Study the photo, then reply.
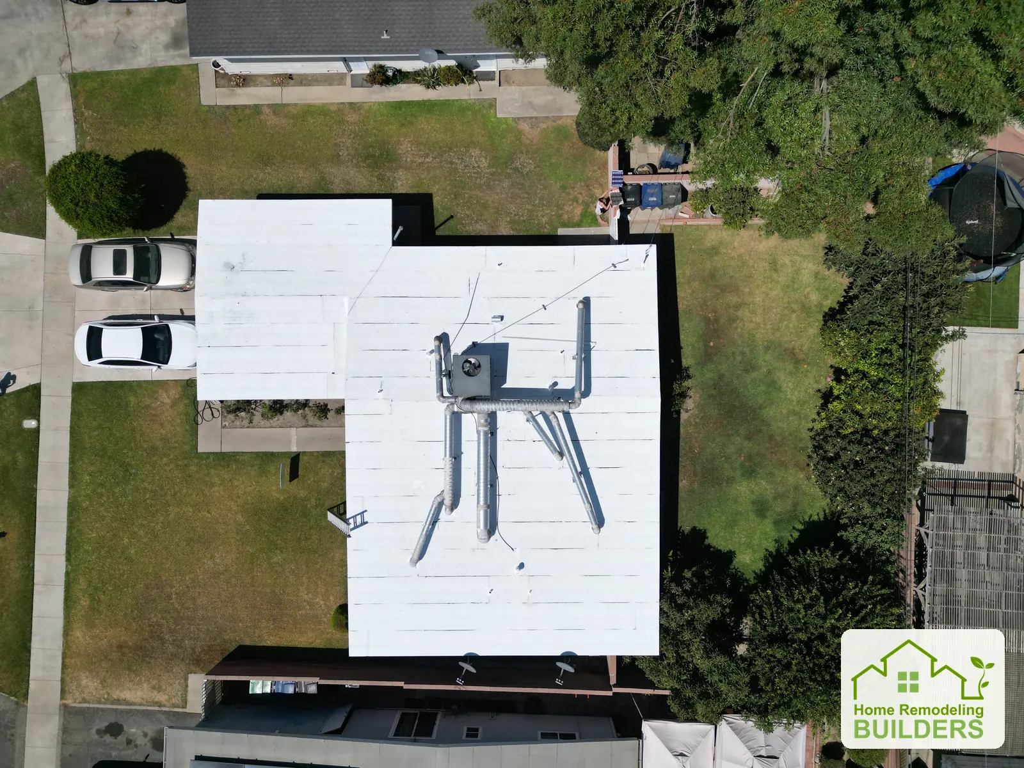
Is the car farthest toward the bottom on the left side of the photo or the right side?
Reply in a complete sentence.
The car farthest toward the bottom appears in the left half of the scene.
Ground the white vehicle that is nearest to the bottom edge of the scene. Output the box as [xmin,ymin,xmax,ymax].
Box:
[74,316,197,376]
